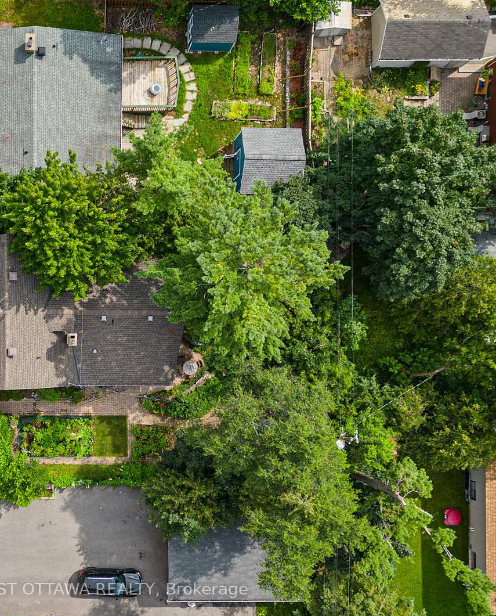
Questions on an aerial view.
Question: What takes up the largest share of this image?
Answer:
trees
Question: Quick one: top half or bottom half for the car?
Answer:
bottom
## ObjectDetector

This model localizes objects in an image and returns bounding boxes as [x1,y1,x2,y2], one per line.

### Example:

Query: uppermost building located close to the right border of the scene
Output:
[372,0,495,67]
